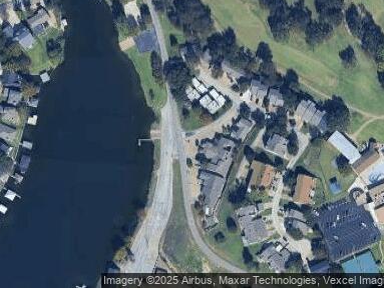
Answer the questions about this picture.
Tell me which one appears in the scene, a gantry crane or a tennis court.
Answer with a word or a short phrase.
tennis court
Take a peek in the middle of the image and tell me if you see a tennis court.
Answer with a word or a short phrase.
No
